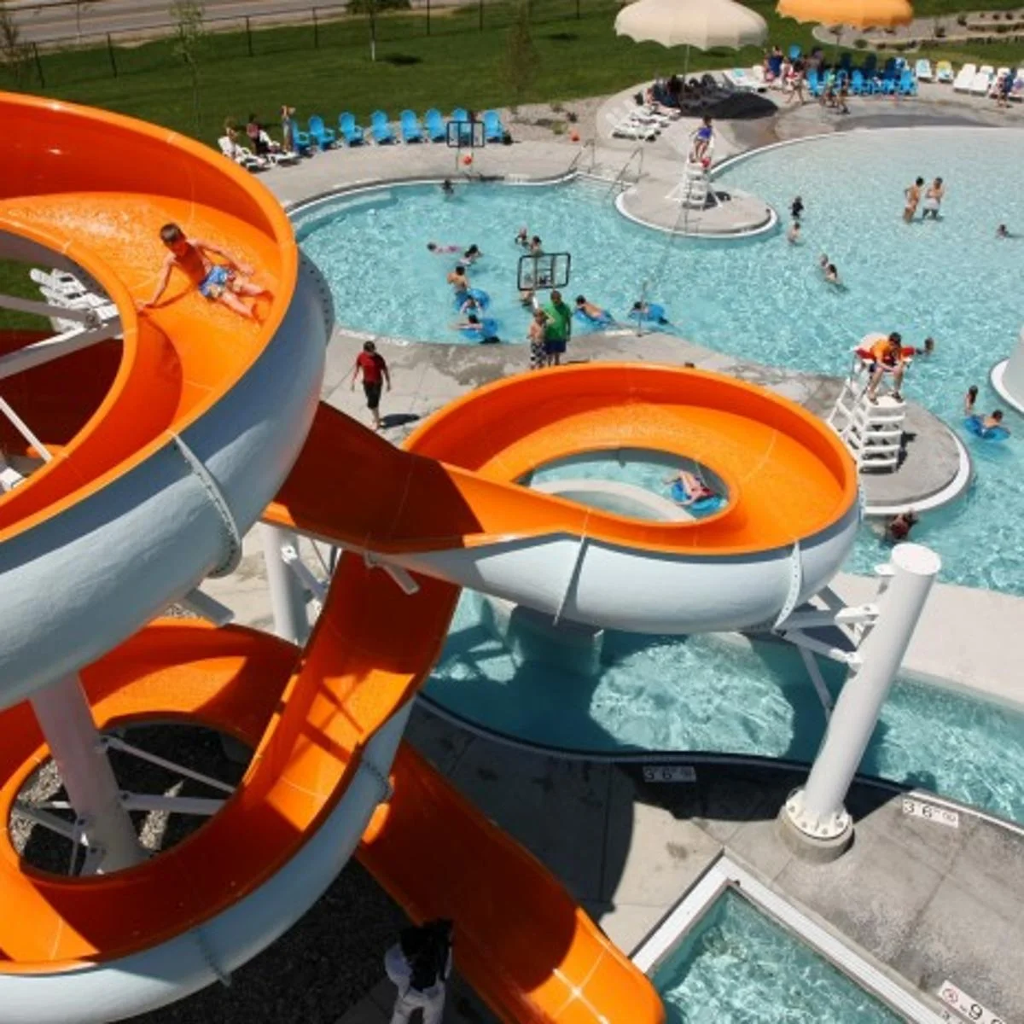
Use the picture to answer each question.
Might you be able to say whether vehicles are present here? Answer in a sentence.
No, no vehicle is visible in the view.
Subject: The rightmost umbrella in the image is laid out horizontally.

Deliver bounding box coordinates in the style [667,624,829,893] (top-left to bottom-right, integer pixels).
[778,0,921,63]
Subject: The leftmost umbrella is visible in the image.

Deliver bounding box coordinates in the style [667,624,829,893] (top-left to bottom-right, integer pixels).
[615,0,777,89]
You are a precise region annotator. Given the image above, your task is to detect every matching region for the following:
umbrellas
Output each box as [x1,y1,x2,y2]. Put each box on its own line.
[778,0,921,63]
[615,0,777,89]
